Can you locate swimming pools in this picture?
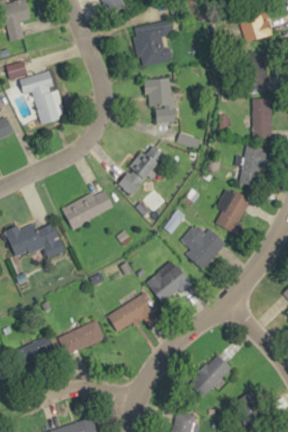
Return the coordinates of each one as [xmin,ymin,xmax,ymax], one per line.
[15,96,31,117]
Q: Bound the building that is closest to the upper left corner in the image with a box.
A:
[5,0,31,40]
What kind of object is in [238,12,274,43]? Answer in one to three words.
house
